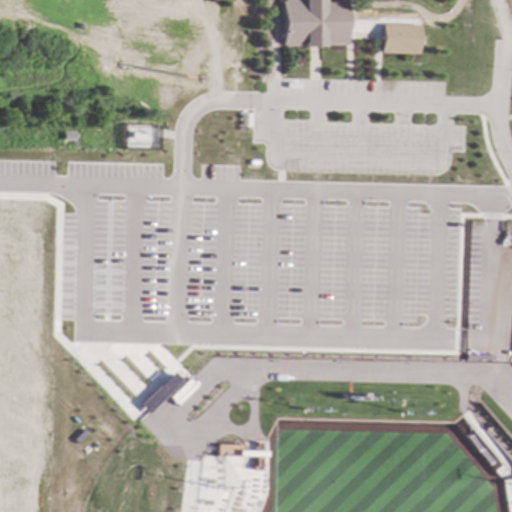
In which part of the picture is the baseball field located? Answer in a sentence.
The baseball field appears toward the bottom right of the photo.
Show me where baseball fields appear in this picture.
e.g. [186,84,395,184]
[263,420,500,512]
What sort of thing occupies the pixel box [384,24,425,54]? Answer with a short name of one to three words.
building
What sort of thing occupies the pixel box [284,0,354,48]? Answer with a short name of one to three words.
building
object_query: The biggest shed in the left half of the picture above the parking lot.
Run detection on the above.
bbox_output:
[126,124,160,147]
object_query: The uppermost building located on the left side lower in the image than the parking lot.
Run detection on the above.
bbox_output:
[144,371,188,412]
